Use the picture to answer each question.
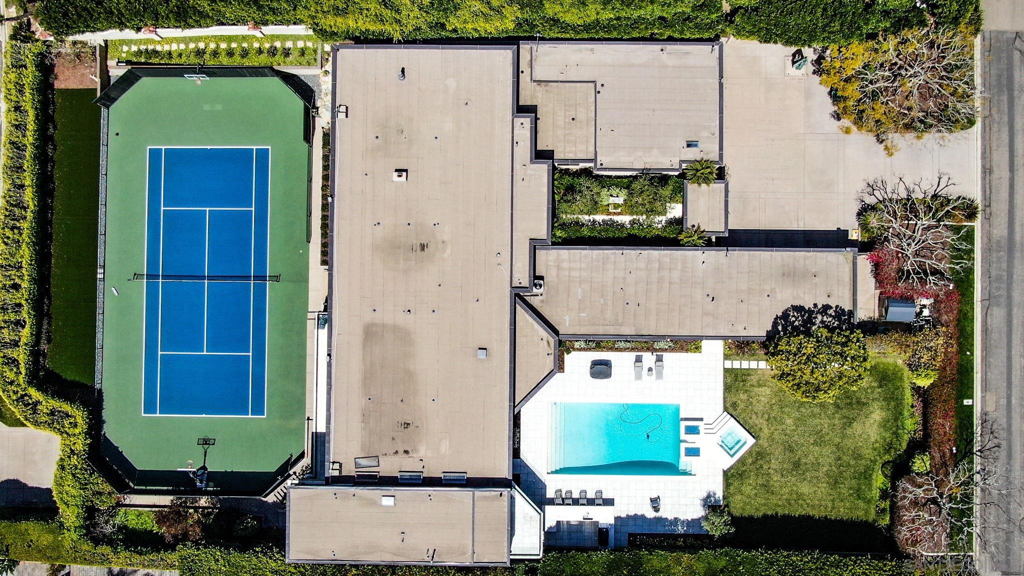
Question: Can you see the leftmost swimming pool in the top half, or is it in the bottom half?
bottom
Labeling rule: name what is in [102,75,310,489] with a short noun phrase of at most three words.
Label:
tennis court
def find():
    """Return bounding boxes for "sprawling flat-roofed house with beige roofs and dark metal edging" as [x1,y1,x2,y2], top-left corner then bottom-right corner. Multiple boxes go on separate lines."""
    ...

[286,41,857,566]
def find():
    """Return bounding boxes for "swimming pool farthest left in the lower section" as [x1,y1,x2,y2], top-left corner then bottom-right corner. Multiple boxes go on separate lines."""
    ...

[545,399,698,479]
